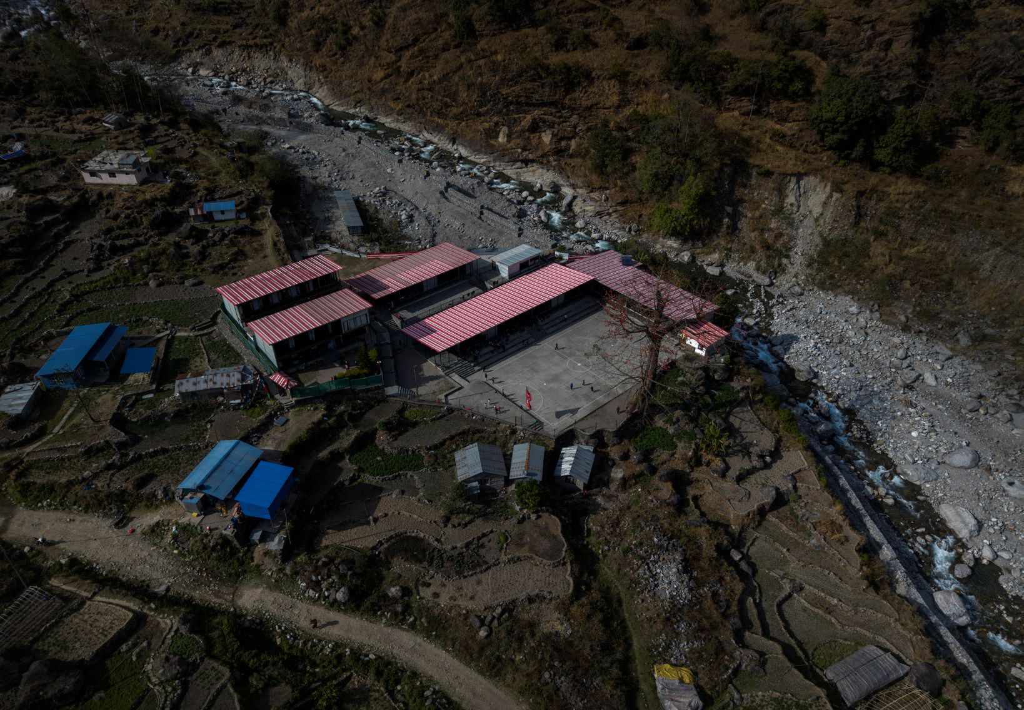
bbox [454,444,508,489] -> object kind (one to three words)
shed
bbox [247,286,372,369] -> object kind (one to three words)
building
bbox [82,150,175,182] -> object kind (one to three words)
house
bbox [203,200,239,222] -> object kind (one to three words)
house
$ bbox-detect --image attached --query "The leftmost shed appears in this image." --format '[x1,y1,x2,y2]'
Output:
[0,383,47,428]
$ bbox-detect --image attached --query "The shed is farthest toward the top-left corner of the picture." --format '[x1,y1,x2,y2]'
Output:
[102,114,132,132]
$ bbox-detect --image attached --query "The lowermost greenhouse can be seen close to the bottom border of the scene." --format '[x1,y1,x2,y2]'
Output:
[824,646,910,710]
